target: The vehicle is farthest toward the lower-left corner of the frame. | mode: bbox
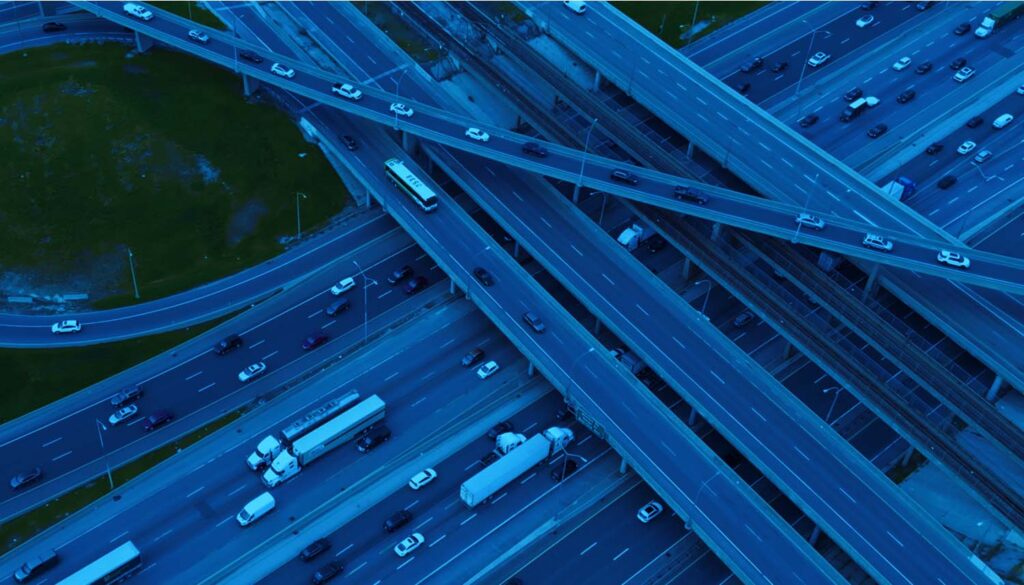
[15,547,60,582]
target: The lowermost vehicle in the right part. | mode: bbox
[636,501,664,524]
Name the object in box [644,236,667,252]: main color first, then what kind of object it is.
black car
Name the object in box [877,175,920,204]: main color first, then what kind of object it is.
blue truck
